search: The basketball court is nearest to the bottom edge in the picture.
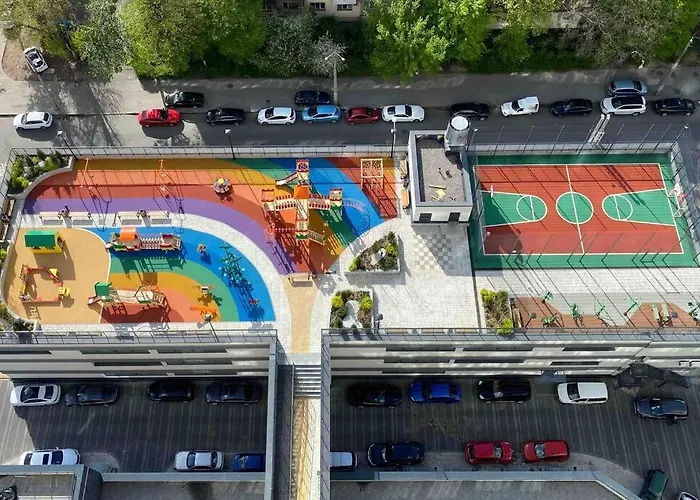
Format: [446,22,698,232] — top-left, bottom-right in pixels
[471,155,700,267]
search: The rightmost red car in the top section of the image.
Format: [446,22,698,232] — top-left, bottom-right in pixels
[344,106,383,127]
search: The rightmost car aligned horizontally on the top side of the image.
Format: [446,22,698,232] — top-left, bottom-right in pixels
[651,96,697,118]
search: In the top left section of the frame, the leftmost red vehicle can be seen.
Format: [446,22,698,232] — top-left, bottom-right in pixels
[137,107,183,129]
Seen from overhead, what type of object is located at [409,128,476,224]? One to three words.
building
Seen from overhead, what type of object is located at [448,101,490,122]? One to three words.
car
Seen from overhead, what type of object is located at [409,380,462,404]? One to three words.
car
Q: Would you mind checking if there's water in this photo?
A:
No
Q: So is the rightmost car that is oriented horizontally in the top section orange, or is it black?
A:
black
